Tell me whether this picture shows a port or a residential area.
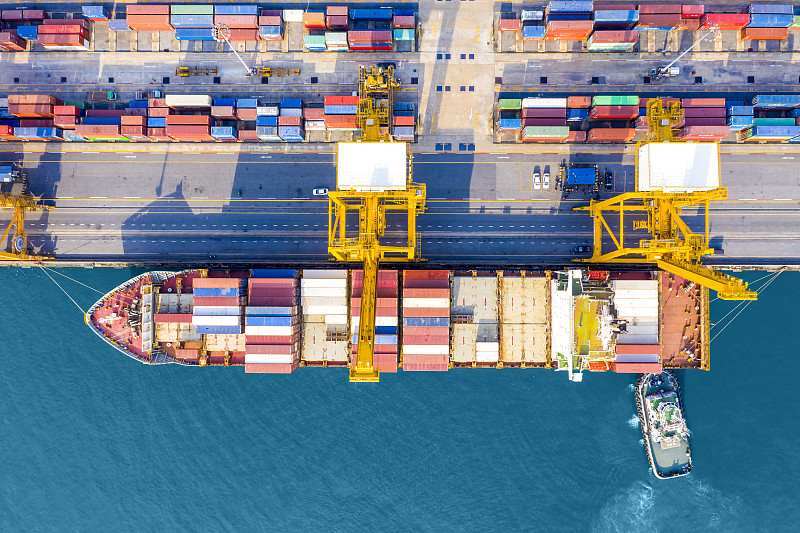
port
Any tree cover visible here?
No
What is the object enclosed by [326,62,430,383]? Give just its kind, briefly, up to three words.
container crane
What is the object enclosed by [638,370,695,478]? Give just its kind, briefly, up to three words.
boat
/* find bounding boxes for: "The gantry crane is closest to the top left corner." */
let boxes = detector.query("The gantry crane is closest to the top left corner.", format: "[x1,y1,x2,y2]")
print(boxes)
[0,195,52,261]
